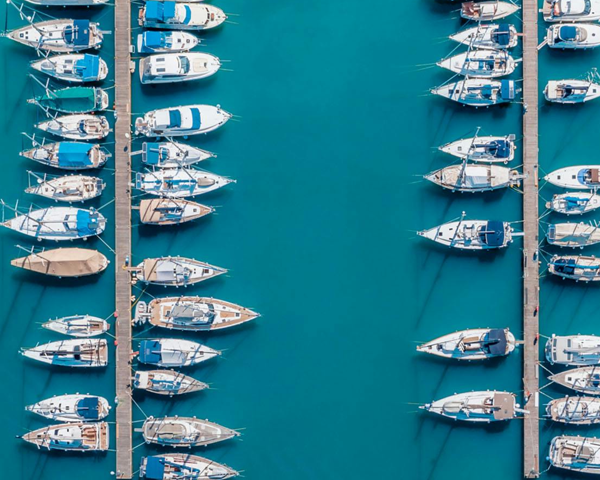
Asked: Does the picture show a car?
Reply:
No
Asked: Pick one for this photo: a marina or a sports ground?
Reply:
marina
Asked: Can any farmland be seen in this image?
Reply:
No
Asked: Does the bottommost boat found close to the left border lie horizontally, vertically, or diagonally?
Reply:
horizontally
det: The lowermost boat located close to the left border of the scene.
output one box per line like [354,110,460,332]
[10,421,118,453]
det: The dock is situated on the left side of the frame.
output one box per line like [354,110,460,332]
[115,0,133,479]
